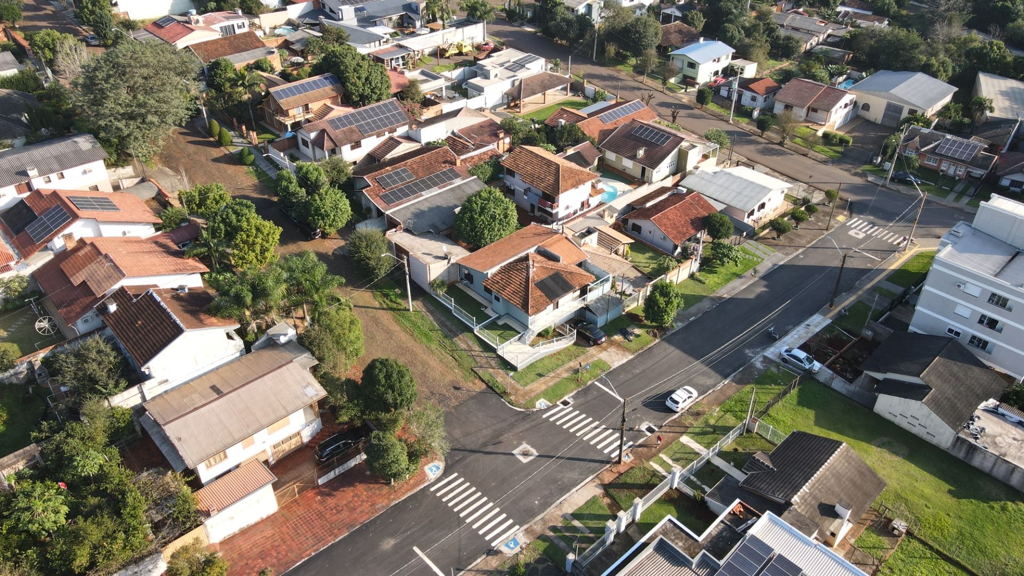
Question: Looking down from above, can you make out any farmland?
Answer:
No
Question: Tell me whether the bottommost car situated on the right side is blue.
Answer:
No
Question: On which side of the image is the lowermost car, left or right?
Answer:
left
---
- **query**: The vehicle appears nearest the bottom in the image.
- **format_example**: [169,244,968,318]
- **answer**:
[317,425,369,458]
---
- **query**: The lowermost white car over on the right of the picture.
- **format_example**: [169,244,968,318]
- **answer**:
[663,386,700,413]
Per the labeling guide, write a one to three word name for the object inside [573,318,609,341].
car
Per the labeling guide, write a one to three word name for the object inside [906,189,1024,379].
building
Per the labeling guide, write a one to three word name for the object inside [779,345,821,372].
car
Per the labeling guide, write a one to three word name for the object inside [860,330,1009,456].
house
